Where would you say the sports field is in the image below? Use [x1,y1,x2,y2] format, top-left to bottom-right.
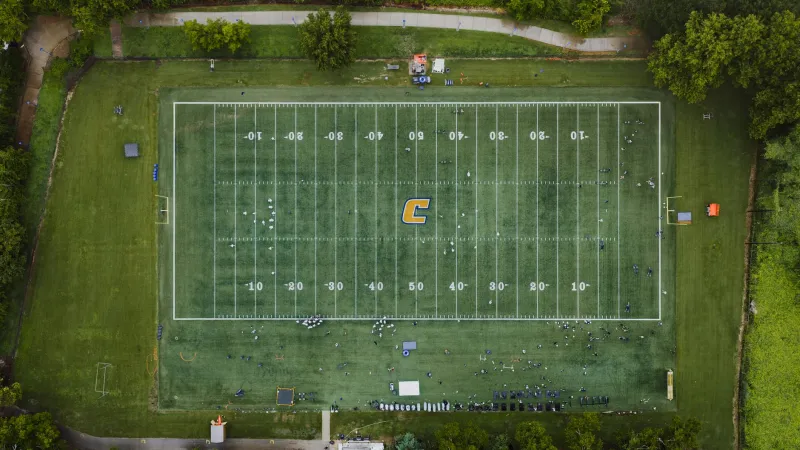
[158,88,677,412]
